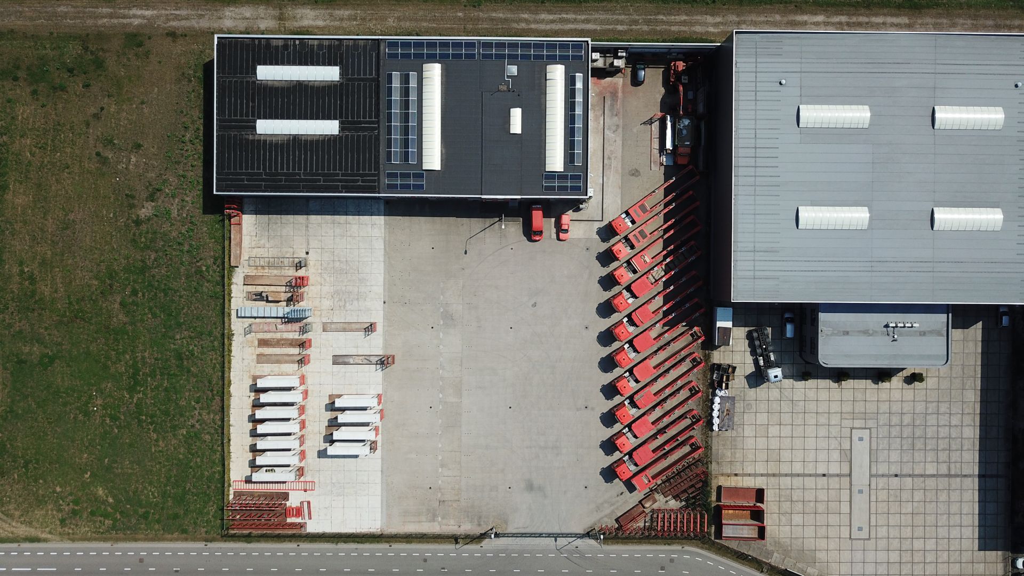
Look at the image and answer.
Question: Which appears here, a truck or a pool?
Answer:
truck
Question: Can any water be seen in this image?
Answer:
No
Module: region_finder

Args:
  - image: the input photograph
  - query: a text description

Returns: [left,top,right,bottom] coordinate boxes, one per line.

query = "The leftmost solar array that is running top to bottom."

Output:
[386,72,416,163]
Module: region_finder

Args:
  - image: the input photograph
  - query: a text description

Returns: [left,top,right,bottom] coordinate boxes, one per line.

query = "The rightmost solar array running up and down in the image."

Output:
[569,73,583,164]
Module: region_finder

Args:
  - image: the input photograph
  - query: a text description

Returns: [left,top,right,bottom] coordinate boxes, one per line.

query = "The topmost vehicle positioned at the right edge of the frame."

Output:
[993,305,1009,328]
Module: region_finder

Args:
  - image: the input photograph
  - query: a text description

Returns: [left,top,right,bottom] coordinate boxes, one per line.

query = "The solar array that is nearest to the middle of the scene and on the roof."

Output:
[543,172,582,191]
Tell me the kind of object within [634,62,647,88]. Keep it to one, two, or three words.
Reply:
vehicle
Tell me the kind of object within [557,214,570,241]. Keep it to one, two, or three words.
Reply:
vehicle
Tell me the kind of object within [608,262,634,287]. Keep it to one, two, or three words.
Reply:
truck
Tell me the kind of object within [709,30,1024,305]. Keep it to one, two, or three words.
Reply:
building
